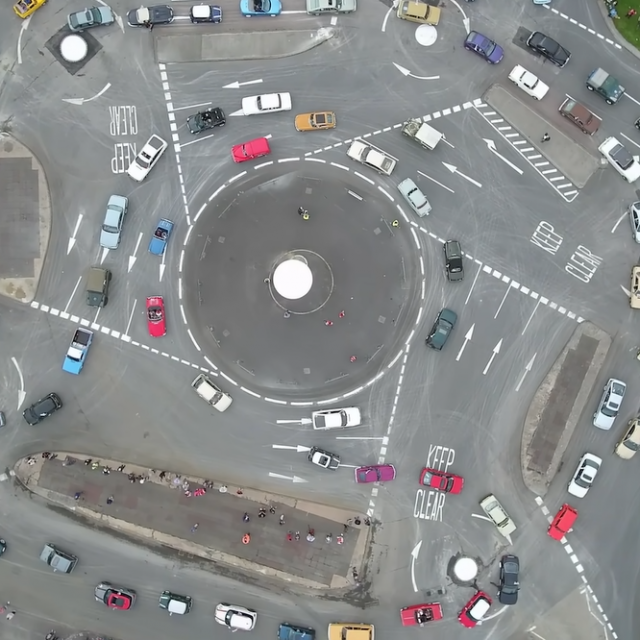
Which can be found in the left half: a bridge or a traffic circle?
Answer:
traffic circle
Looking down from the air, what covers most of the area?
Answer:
paved ground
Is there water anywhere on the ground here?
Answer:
No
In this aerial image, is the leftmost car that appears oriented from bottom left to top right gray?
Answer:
Yes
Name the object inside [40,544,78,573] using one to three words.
truck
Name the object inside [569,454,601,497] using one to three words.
car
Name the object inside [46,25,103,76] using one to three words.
roundabout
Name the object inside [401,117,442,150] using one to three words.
vehicle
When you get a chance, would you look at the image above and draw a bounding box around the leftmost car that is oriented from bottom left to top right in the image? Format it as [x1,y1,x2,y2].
[23,394,61,424]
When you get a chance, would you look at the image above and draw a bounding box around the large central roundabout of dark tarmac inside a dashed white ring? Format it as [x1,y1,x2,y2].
[179,159,425,405]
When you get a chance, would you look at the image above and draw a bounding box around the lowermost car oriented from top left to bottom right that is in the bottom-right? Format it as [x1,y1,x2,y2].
[480,494,515,536]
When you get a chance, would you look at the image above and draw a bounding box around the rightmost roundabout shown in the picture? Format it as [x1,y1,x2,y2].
[448,554,480,586]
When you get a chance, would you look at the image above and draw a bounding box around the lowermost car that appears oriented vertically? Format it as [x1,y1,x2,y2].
[499,554,521,604]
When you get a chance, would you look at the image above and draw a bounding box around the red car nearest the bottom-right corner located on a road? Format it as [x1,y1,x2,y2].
[548,504,578,540]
